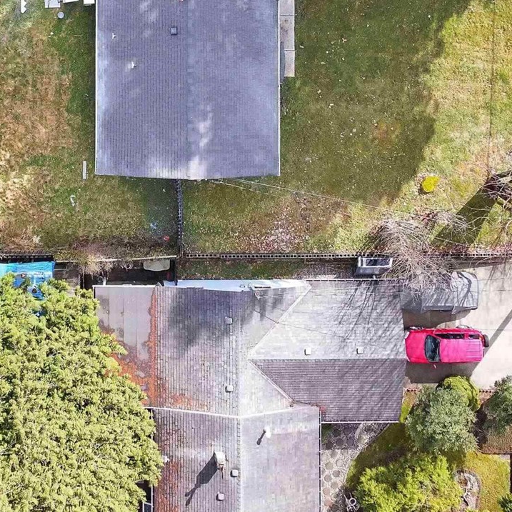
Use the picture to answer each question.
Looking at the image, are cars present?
Yes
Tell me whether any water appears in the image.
No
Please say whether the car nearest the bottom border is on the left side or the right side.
right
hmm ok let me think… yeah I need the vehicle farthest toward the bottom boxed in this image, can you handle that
[406,329,495,374]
